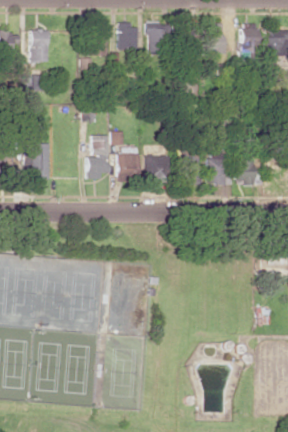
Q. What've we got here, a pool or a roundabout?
pool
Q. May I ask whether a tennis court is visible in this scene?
Yes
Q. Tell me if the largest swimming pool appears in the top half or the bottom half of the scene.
bottom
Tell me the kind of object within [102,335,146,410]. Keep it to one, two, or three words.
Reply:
tennis court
